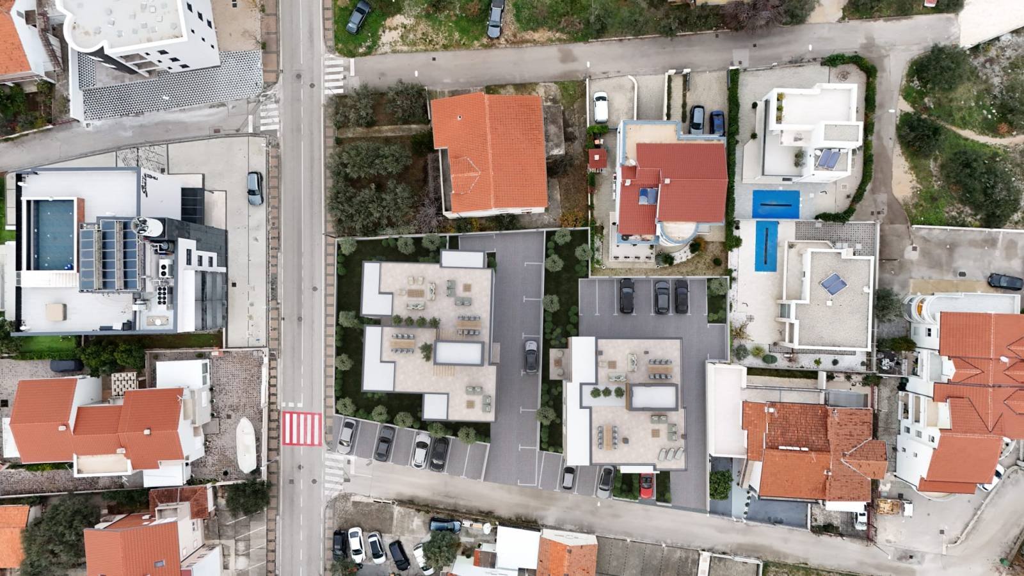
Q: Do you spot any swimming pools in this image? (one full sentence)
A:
Yes, the frame does contain a swimming pool.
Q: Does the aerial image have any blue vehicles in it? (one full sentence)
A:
Yes, the image includes a blue vehicle.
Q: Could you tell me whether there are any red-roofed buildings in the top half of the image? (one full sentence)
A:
Yes, there is a red-roofed building in the top half of the image.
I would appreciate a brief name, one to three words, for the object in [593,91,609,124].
vehicle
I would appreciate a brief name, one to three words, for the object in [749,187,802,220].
swimming pool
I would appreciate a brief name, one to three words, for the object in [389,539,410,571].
car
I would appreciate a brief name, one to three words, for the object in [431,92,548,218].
house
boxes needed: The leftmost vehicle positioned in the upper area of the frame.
[245,170,264,206]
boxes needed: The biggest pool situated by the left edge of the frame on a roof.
[33,201,74,269]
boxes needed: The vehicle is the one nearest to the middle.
[523,339,539,374]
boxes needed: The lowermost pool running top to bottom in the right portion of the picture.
[752,218,780,274]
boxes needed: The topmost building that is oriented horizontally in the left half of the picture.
[57,0,220,77]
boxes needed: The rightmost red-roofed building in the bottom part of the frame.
[886,290,1024,494]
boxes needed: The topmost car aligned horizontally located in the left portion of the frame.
[49,358,85,375]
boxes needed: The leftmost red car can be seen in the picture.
[639,473,655,500]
